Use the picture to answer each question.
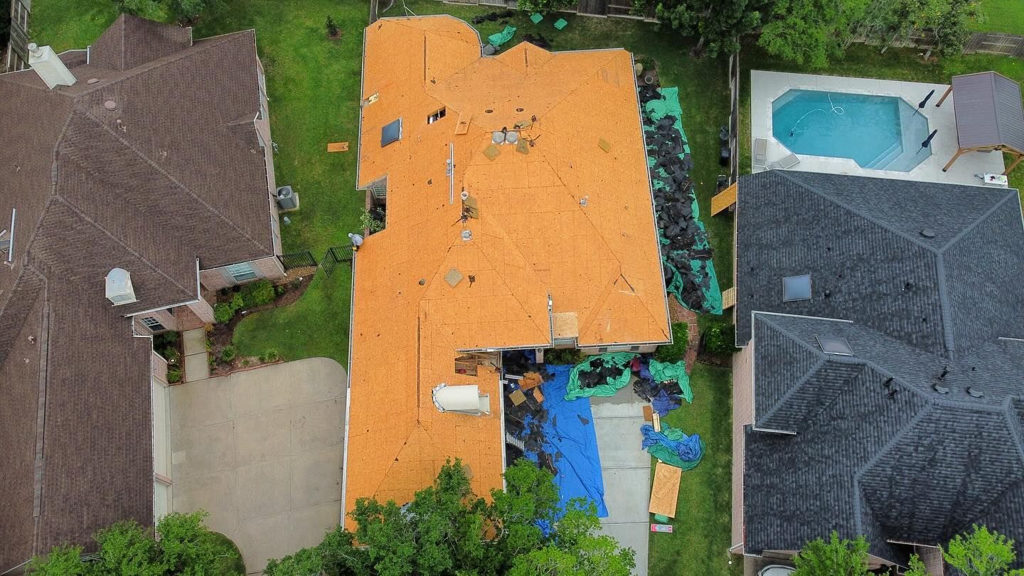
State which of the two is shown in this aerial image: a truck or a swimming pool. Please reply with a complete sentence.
Looking from above, you can make out a swimming pool.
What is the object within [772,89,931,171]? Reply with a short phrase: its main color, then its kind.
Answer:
blue swimming pool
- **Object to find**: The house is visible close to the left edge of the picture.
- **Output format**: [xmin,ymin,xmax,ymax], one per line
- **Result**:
[0,12,293,576]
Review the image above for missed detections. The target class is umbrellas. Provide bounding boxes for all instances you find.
[917,124,942,154]
[913,85,938,116]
